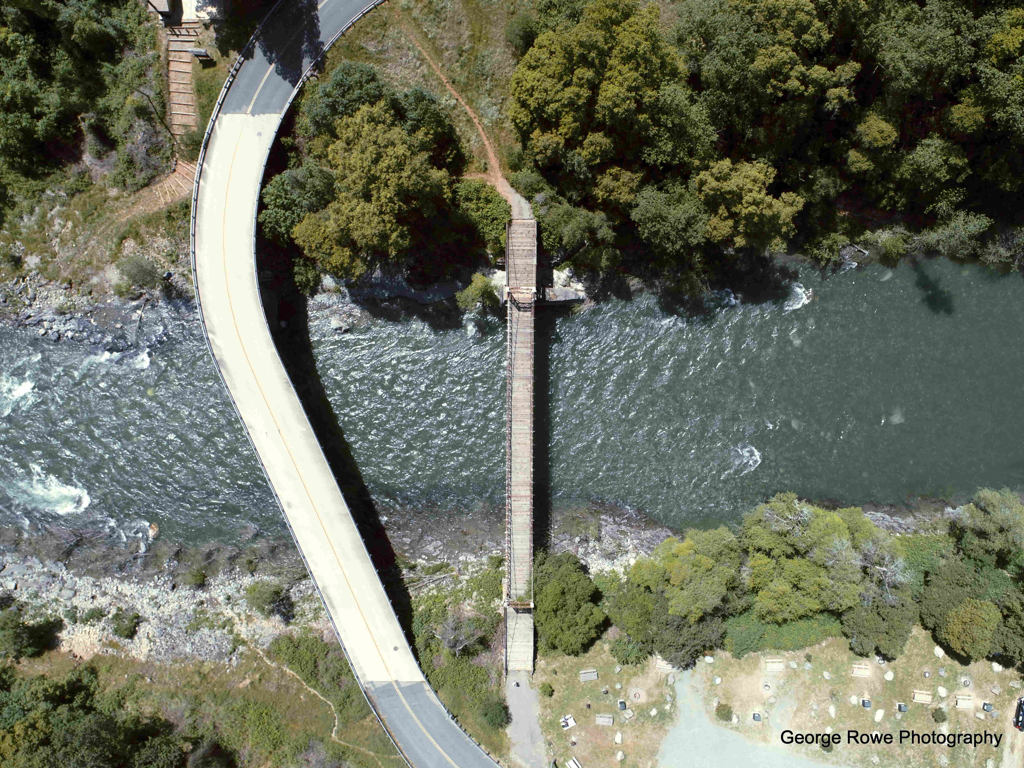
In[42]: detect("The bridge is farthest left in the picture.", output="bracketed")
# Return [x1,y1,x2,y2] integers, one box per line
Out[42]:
[190,87,440,702]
